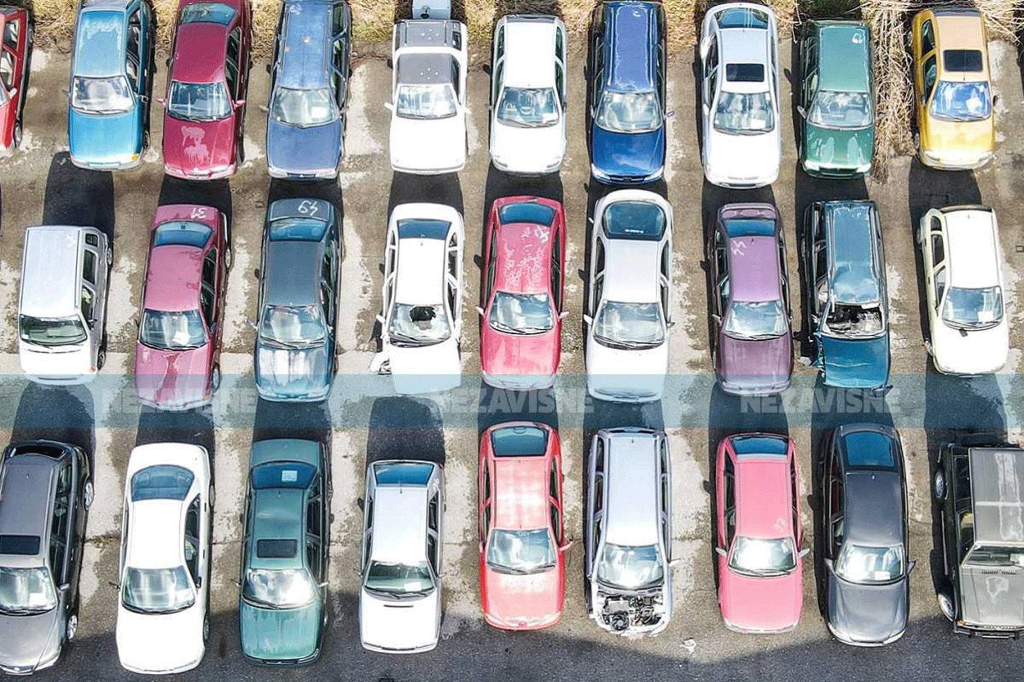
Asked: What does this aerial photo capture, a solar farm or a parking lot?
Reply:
parking lot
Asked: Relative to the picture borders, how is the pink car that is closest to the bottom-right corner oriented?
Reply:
from top to bottom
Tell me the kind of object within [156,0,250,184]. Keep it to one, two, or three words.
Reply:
car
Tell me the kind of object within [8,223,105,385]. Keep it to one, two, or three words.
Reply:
van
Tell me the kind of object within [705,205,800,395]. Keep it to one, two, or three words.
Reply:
car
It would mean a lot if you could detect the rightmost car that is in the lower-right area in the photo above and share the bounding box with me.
[938,445,1024,637]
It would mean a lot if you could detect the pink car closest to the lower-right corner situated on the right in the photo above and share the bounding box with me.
[712,434,811,634]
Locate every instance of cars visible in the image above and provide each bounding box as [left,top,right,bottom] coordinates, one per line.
[917,205,1021,379]
[384,18,470,177]
[260,0,347,183]
[476,200,568,391]
[590,430,684,635]
[374,211,470,395]
[909,9,1002,173]
[248,203,343,403]
[587,4,675,188]
[227,442,328,666]
[698,6,787,191]
[128,209,231,410]
[705,205,800,395]
[107,446,213,674]
[938,445,1024,637]
[477,424,571,631]
[352,463,448,653]
[156,0,250,184]
[485,17,572,179]
[0,443,85,674]
[803,203,900,393]
[712,434,811,634]
[817,428,923,646]
[580,196,676,404]
[0,0,29,156]
[798,21,885,181]
[60,5,151,173]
